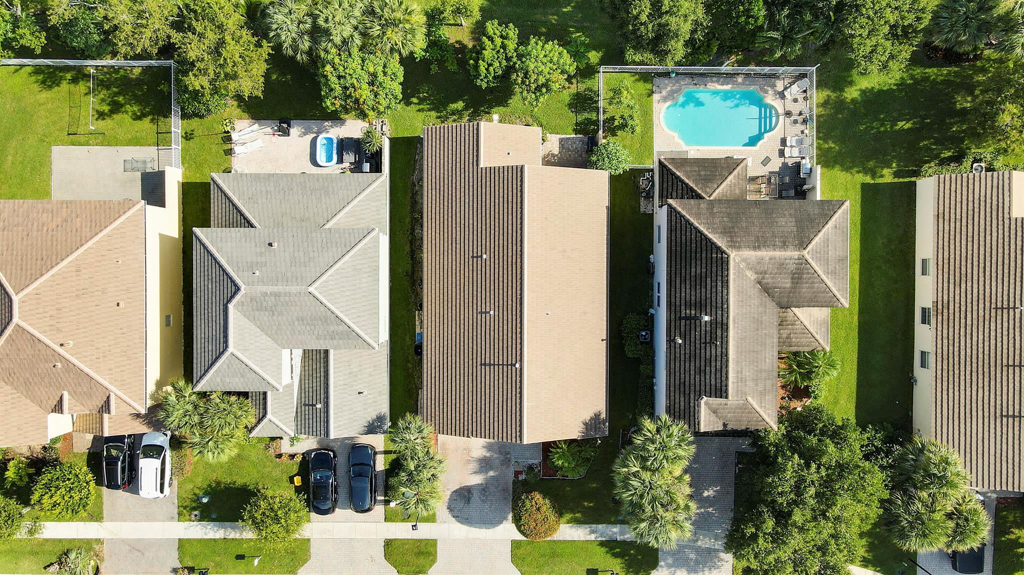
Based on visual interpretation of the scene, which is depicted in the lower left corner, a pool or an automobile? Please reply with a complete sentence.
The one visible in the lower left corner is an automobile.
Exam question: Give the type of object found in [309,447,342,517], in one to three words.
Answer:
car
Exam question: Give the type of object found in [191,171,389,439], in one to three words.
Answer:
house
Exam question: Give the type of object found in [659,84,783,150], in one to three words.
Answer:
swimming pool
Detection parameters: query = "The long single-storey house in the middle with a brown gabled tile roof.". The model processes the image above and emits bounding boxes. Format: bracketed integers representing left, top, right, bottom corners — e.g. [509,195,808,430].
[423,122,611,444]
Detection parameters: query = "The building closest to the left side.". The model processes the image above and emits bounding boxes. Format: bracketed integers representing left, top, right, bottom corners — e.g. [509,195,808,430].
[0,199,182,447]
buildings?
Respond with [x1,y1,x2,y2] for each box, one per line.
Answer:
[915,172,1024,490]
[652,149,851,435]
[191,171,389,439]
[0,199,182,447]
[423,122,611,444]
